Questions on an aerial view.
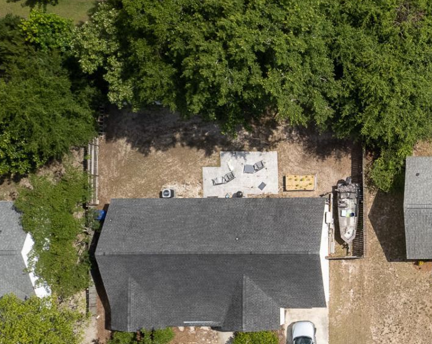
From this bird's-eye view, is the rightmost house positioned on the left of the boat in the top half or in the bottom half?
bottom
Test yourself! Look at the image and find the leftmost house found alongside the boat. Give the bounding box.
[95,197,329,333]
